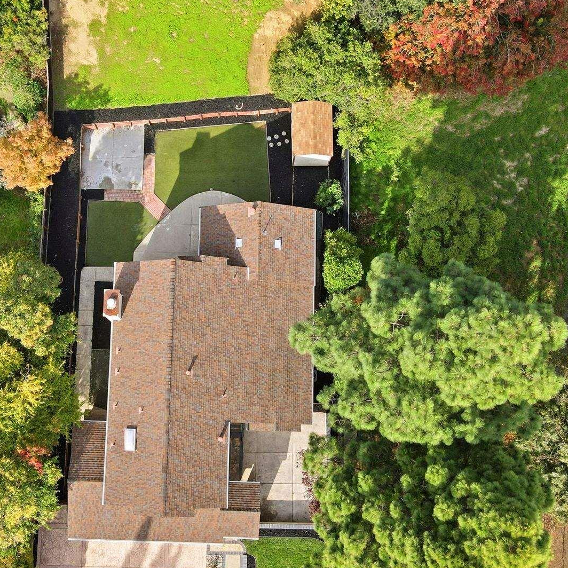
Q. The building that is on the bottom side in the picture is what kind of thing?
residential house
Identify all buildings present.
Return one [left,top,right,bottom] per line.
[288,100,333,168]
[67,202,318,545]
